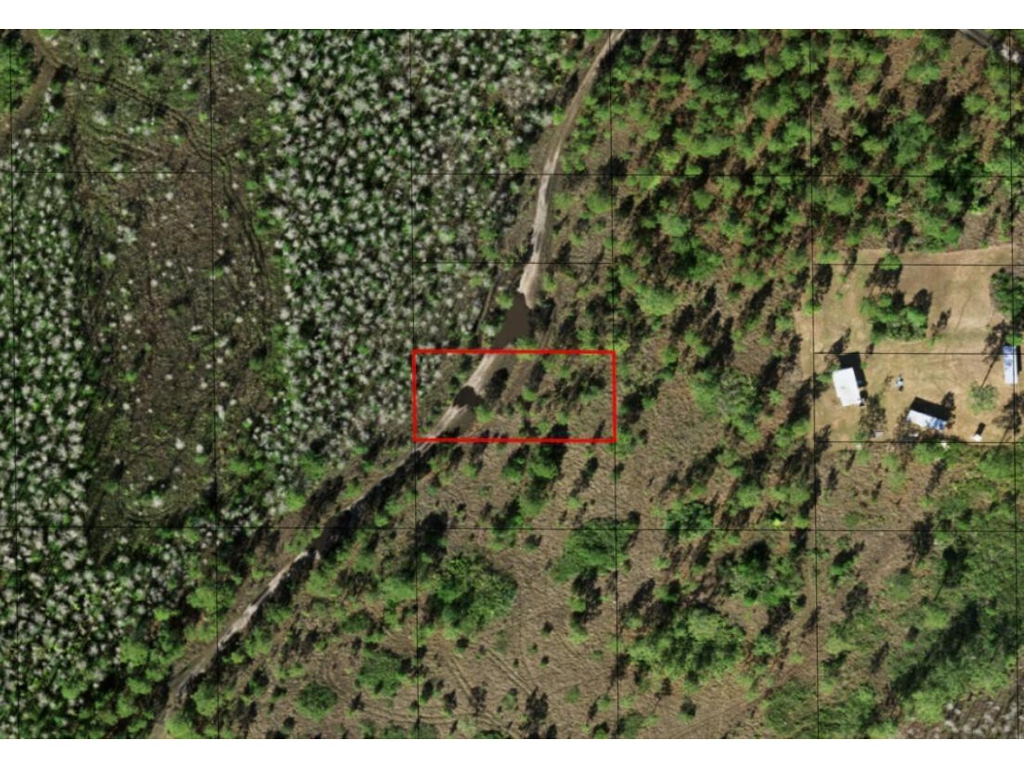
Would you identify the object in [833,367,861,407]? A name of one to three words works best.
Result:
house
